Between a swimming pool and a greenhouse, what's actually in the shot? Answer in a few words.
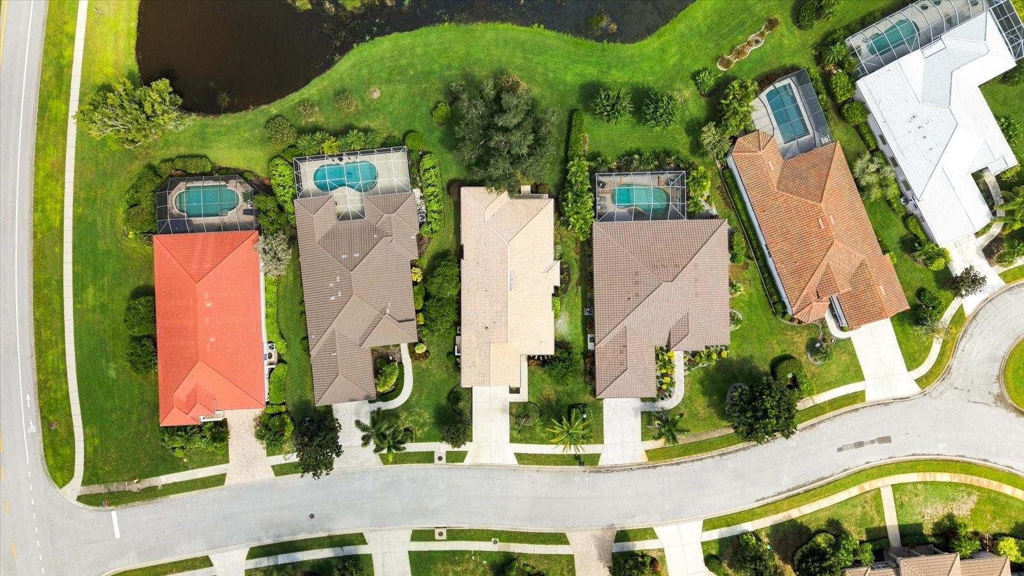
swimming pool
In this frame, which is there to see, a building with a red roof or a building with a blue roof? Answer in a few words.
building with a red roof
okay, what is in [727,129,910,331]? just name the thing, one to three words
house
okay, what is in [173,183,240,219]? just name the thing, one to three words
swimming pool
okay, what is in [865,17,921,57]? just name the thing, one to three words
swimming pool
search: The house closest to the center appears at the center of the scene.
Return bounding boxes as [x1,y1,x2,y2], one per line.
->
[460,186,560,388]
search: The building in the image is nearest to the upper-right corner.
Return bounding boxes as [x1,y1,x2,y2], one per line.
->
[850,9,1018,247]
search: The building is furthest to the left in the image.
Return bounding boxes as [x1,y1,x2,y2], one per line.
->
[153,229,270,427]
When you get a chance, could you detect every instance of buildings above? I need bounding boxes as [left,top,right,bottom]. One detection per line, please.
[838,544,1009,576]
[727,129,910,331]
[850,9,1018,247]
[592,218,731,399]
[460,186,560,388]
[153,229,270,427]
[294,191,420,406]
